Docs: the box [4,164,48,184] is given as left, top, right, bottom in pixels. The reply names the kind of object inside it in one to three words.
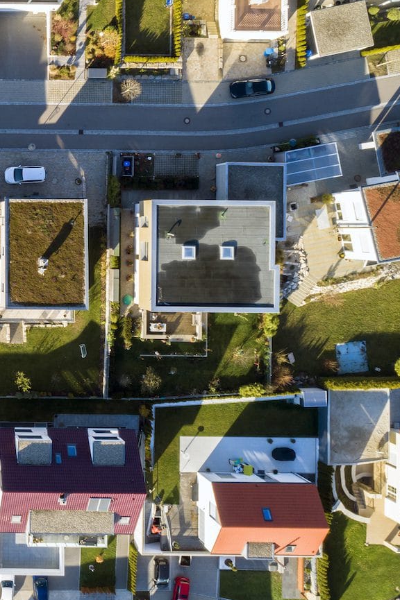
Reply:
car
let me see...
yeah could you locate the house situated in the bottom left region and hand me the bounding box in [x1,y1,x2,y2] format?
[0,421,147,576]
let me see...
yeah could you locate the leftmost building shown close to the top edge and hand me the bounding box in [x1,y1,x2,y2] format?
[209,0,289,45]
